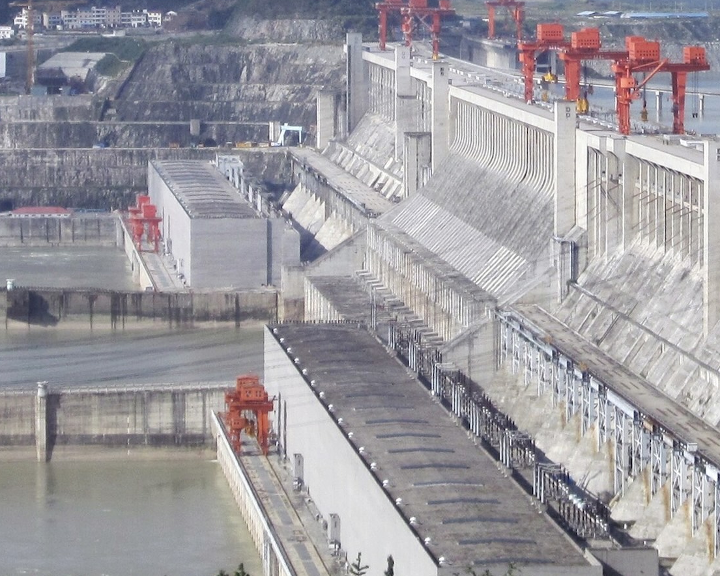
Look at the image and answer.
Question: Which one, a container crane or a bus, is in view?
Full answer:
There is a container crane in the scene.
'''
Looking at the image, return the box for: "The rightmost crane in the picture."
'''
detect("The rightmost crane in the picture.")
[615,33,703,133]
